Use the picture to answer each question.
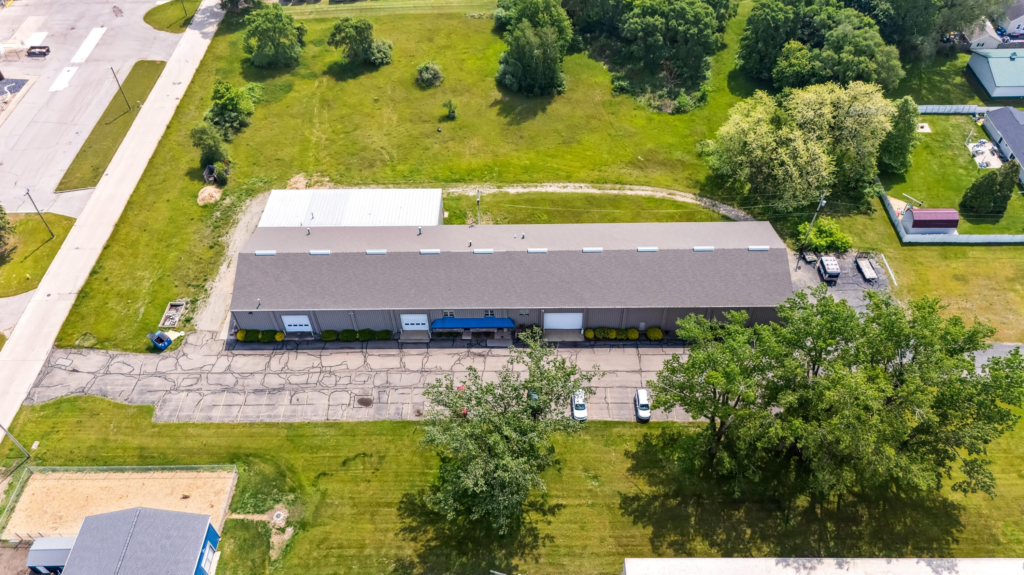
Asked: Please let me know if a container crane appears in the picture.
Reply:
No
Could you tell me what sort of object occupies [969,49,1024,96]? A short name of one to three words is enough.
barn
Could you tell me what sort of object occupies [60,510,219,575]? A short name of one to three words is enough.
building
